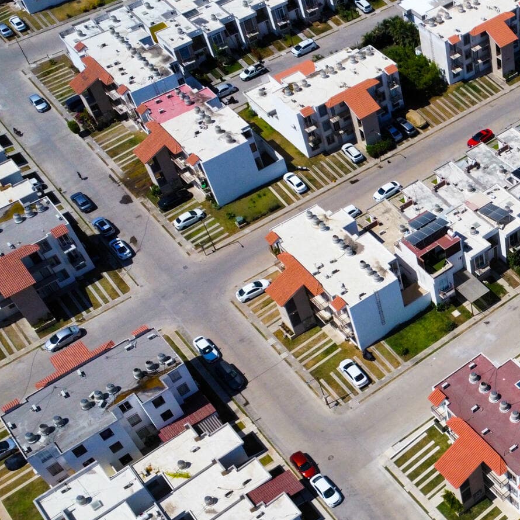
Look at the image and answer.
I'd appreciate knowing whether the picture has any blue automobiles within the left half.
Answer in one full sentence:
Yes, I can see a blue automobile within the left half.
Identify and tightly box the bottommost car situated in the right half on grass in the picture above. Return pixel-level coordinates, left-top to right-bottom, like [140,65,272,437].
[338,359,370,388]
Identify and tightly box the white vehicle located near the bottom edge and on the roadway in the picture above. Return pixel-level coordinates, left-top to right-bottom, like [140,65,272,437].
[310,472,345,509]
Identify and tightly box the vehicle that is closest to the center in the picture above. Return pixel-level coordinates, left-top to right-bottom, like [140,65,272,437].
[234,278,271,303]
